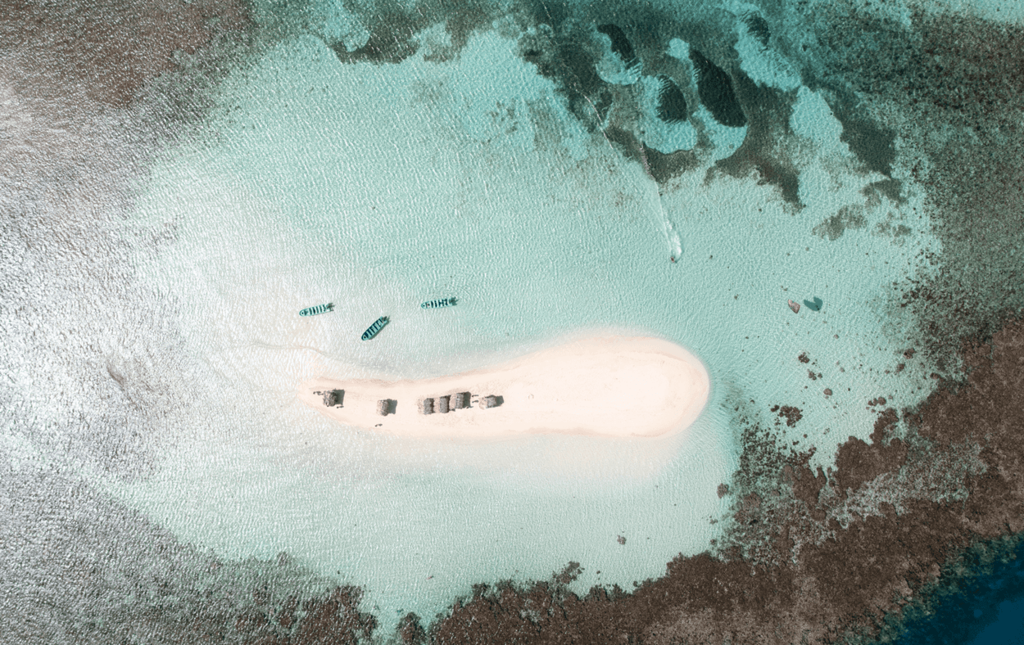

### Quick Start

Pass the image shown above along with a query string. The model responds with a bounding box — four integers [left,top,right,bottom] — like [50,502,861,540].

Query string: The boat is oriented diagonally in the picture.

[361,317,387,340]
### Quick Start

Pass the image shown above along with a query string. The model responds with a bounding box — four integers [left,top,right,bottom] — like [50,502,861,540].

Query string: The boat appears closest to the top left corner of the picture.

[299,304,333,316]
